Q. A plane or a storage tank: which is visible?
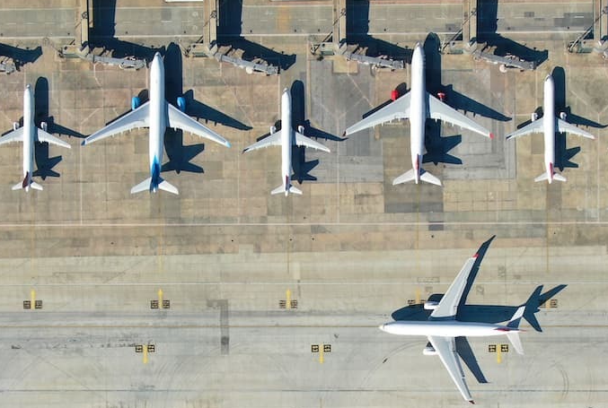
plane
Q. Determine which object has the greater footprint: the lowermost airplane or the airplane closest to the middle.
the lowermost airplane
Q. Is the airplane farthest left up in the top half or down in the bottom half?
top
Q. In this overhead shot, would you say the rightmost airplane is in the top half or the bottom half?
top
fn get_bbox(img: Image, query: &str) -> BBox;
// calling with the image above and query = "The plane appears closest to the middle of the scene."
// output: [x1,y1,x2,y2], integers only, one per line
[243,88,329,195]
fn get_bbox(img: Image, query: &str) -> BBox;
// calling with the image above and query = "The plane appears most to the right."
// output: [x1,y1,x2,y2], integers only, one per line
[508,74,593,181]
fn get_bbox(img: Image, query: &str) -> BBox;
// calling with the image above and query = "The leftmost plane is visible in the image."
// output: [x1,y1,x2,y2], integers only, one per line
[0,85,69,192]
